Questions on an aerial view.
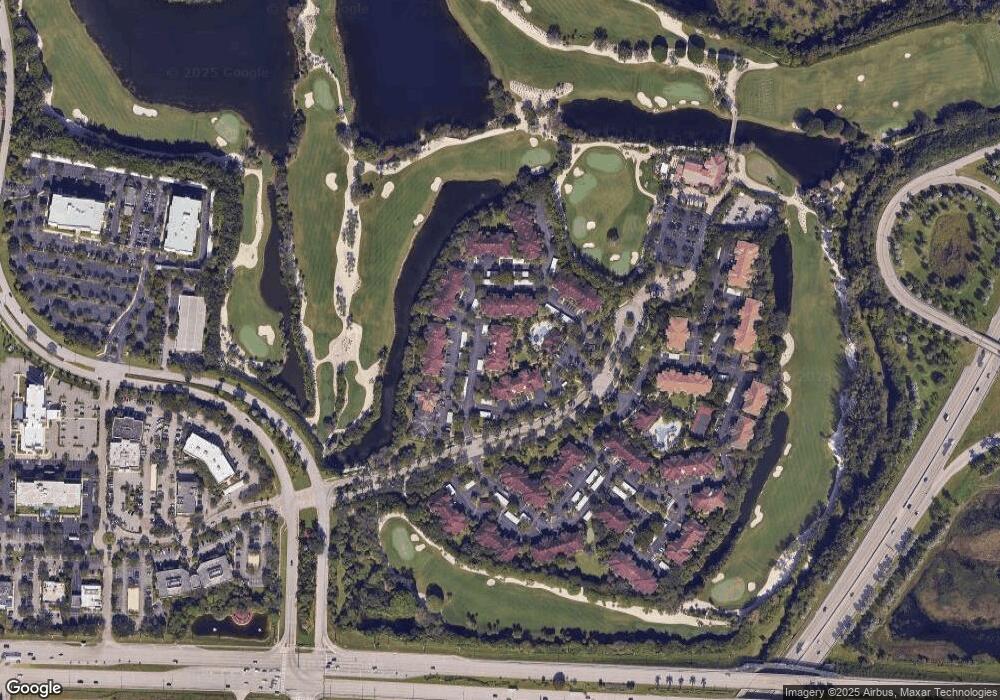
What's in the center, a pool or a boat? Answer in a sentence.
The one visible in the center is a pool.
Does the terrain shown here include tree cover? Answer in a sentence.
Yes, there is tree cover in the image.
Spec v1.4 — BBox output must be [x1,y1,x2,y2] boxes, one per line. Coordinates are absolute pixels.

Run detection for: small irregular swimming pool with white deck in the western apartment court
[530,320,553,348]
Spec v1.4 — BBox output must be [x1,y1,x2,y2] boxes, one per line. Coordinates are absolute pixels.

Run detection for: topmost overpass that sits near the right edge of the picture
[936,320,1000,356]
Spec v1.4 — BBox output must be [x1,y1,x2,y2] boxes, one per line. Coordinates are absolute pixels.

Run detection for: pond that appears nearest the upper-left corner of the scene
[260,182,306,410]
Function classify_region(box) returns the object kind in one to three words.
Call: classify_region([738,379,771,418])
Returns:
building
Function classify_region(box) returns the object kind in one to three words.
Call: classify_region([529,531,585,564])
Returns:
building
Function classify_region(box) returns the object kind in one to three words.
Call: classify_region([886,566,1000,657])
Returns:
pond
